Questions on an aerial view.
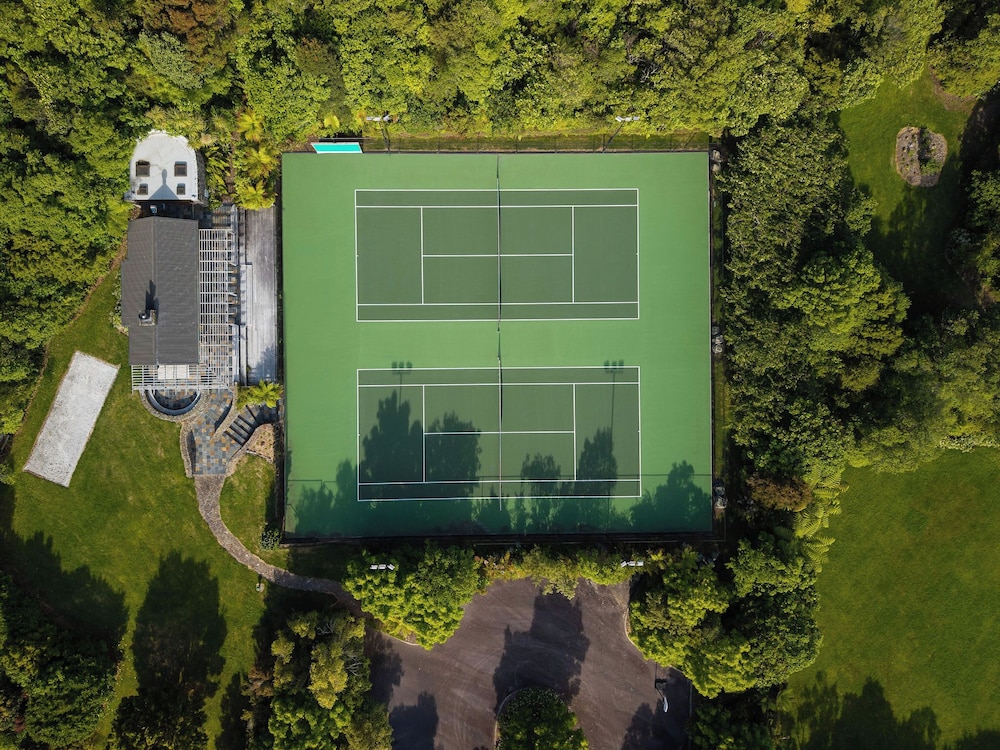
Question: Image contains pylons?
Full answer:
No, there appears to be no pylon in this shot.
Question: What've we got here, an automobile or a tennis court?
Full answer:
The one in the frame is a tennis court.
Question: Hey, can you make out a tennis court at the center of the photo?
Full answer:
Yes, a tennis court can be seen at the center of the photo.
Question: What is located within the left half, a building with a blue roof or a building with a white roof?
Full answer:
The one visible within the left half is a building with a white roof.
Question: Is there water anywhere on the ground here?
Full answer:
No, water can't be seen anywhere here.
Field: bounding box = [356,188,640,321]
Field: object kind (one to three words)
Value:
tennis court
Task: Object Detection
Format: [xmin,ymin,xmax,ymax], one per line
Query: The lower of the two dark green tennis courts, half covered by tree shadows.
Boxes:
[357,366,641,500]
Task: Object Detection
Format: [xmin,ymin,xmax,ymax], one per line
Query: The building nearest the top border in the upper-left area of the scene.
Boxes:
[128,130,210,206]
